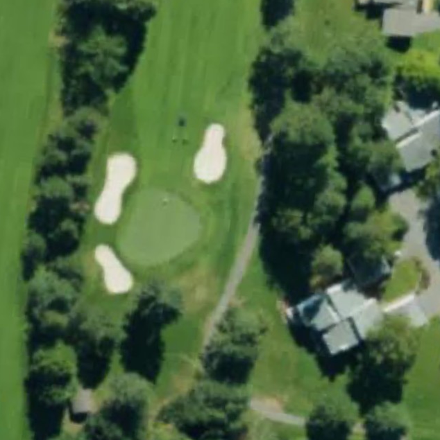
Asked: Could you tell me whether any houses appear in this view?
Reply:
Yes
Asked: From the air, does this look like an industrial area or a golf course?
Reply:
golf course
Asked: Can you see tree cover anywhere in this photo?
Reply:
Yes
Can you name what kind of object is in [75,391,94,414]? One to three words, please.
shed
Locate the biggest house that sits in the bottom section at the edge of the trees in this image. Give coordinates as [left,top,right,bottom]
[296,285,385,355]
